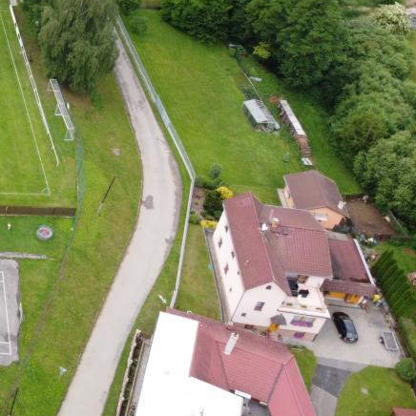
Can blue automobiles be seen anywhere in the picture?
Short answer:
No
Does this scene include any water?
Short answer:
No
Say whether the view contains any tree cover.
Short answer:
Yes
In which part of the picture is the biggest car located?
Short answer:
bottom right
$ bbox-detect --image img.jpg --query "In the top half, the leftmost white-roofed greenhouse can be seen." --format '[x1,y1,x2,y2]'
[236,95,279,131]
